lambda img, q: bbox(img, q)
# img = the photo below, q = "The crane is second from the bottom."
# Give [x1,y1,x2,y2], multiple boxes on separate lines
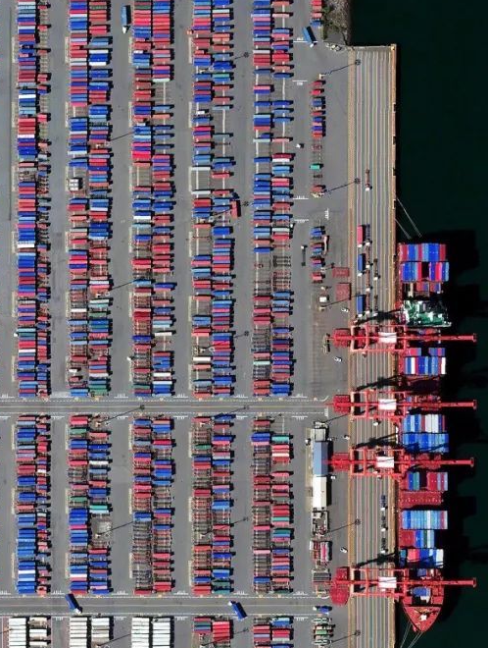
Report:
[332,444,476,481]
